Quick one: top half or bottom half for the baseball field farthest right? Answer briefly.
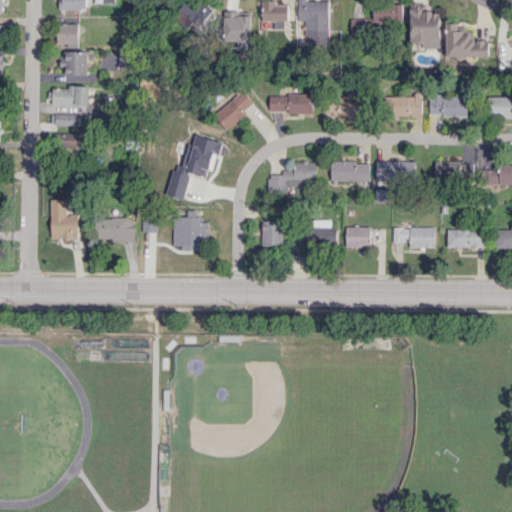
bottom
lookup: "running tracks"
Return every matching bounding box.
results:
[0,338,91,508]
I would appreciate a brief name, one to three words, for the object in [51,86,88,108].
house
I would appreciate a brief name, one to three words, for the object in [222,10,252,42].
house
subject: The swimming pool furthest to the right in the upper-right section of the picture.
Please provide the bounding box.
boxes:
[414,50,444,68]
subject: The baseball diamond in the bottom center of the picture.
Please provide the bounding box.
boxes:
[170,340,418,512]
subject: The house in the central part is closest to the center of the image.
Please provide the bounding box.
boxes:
[261,221,288,246]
